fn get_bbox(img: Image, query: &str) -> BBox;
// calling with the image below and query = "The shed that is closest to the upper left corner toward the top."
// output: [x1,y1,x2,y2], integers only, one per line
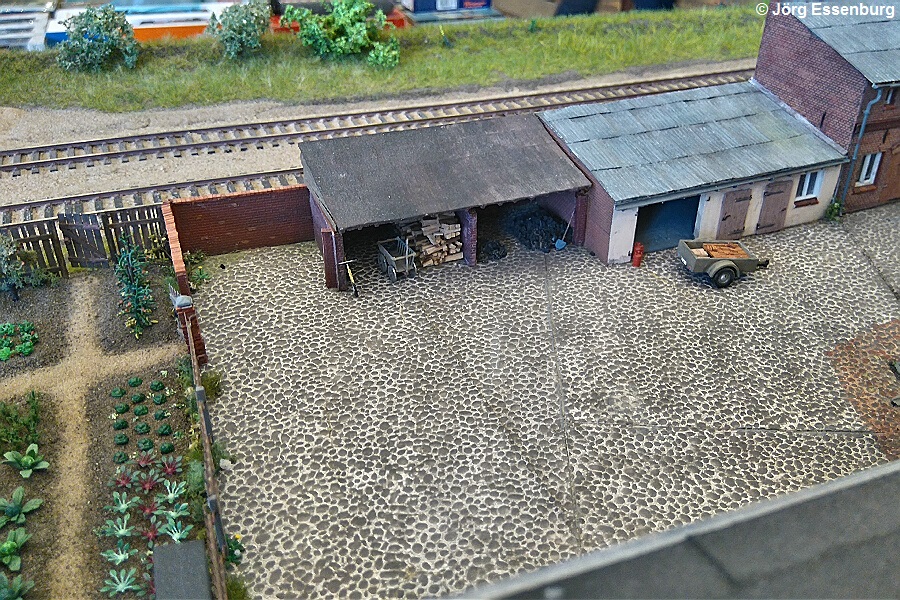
[295,112,590,294]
